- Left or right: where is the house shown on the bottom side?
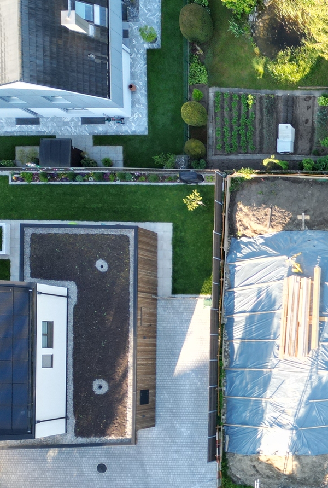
left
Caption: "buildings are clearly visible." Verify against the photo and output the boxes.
[0,225,159,442]
[40,139,91,171]
[0,0,130,117]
